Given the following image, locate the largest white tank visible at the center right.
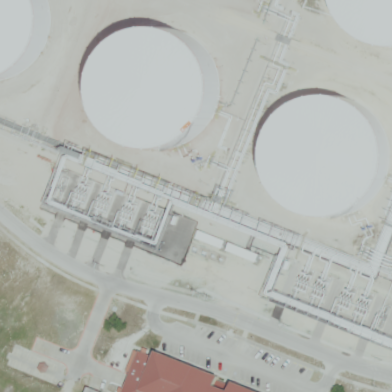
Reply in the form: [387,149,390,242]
[254,92,390,218]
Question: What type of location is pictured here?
industrial area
